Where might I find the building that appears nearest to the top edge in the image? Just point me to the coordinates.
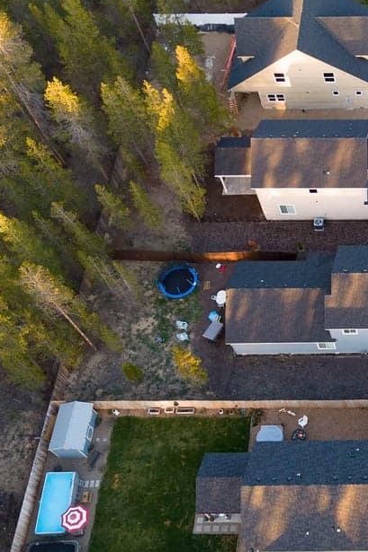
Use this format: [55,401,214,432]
[228,0,368,108]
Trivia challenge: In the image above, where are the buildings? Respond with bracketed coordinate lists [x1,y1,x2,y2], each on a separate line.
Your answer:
[224,245,368,354]
[193,439,368,552]
[44,399,96,460]
[212,120,368,219]
[228,0,368,108]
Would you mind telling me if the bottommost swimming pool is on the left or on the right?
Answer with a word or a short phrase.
left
